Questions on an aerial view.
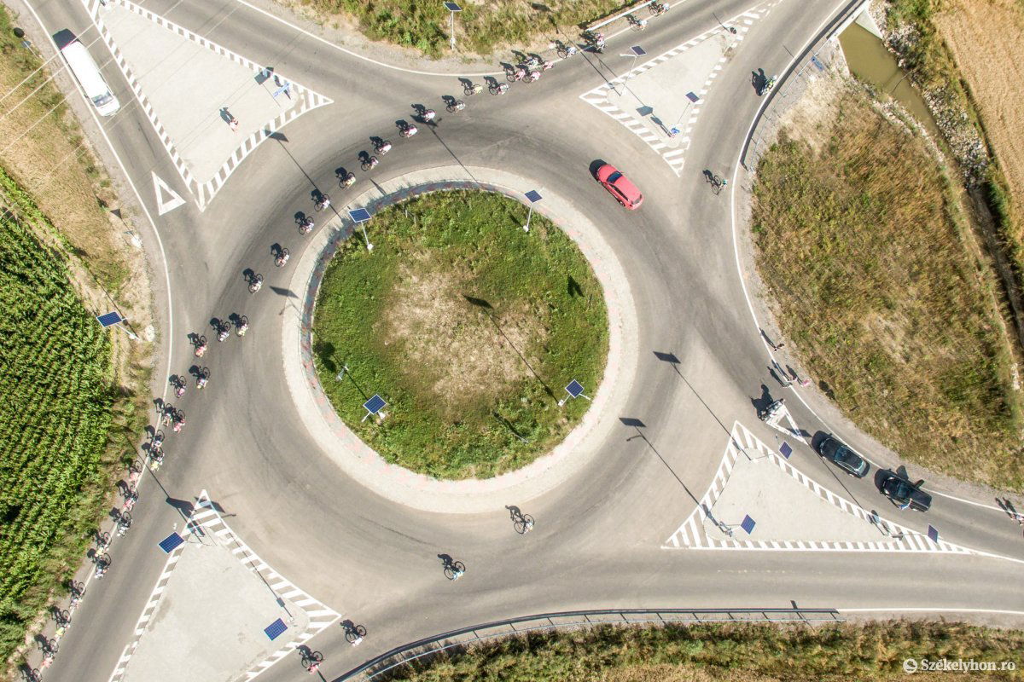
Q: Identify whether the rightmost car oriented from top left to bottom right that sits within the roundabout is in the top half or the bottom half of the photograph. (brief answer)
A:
top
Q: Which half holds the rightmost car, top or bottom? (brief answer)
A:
bottom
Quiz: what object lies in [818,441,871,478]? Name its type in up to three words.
car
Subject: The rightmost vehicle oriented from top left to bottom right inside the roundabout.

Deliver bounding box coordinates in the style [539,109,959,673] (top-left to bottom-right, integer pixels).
[595,168,646,213]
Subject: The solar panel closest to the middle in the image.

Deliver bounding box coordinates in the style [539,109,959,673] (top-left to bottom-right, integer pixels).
[563,377,584,397]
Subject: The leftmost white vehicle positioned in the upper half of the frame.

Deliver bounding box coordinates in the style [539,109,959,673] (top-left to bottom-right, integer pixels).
[63,41,124,120]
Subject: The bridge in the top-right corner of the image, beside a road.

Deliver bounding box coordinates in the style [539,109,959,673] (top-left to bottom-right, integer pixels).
[827,0,882,75]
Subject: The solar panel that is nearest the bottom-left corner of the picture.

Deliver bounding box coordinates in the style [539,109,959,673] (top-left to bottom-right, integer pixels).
[156,529,187,555]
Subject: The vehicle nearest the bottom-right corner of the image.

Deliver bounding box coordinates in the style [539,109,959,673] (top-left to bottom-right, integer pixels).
[880,478,935,516]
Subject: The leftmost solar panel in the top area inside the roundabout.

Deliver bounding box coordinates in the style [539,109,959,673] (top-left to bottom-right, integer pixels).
[349,207,374,222]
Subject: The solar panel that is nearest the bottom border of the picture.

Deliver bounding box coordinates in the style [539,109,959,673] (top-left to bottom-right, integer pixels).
[257,614,287,642]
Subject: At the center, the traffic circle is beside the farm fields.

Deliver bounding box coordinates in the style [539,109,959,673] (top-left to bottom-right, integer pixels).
[177,81,734,621]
